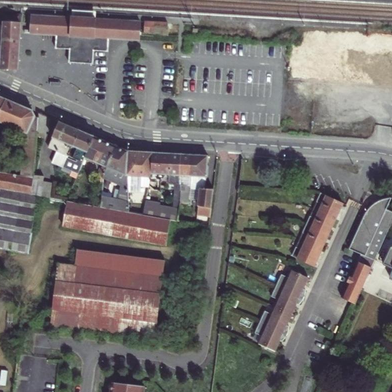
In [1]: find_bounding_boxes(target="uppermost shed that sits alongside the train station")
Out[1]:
[143,20,168,36]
